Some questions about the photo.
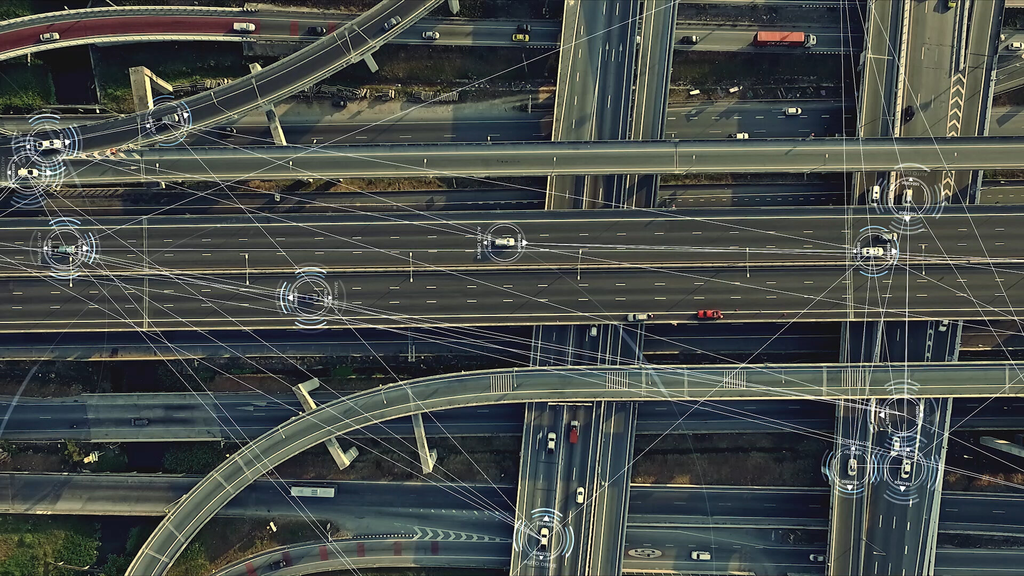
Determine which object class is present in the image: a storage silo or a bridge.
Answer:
bridge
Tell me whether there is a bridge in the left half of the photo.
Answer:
Yes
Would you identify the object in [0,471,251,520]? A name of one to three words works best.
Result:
bridge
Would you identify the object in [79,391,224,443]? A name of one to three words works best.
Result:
bridge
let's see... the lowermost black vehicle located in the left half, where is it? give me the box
[268,558,287,570]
